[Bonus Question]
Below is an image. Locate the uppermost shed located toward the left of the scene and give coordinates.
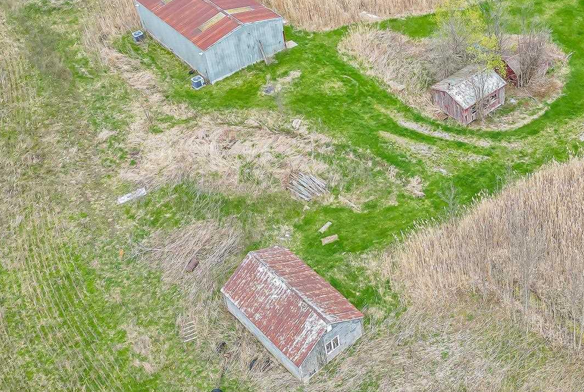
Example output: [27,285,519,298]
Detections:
[132,0,286,84]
